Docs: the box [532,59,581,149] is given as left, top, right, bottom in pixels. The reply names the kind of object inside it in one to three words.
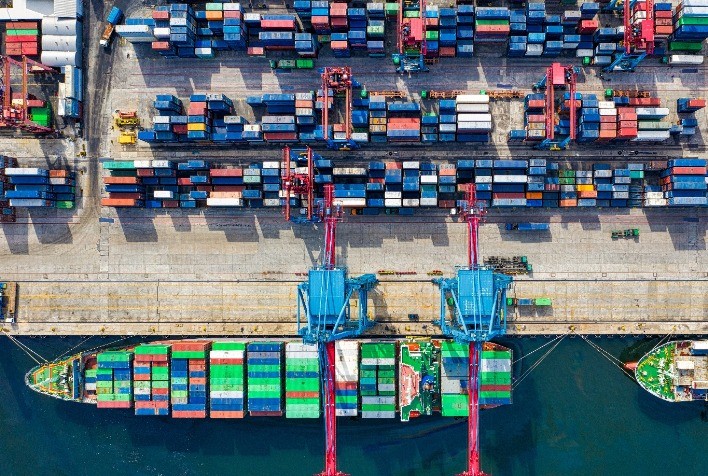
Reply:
container crane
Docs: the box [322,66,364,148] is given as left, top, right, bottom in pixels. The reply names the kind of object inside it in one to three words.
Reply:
container crane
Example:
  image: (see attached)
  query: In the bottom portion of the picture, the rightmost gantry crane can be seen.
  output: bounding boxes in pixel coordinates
[427,183,511,476]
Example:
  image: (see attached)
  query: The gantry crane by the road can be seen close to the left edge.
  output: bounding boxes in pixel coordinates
[0,53,68,132]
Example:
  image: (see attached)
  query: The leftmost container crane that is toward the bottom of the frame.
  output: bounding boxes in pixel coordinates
[292,183,384,476]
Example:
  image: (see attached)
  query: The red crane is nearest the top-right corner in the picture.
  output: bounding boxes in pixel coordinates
[602,0,658,73]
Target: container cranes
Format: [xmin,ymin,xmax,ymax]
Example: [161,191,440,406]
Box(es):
[427,183,511,476]
[602,0,658,73]
[0,53,68,132]
[532,59,581,149]
[322,66,364,148]
[395,0,431,65]
[281,144,327,222]
[292,183,384,476]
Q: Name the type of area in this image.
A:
port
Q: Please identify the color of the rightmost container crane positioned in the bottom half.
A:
blue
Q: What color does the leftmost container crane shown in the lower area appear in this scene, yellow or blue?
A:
blue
